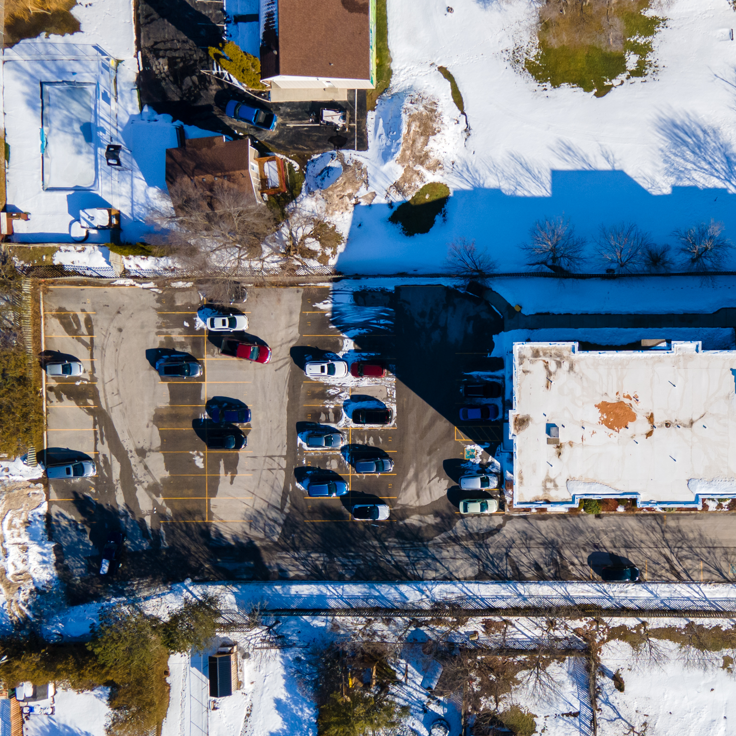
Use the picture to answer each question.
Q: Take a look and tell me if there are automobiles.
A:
Yes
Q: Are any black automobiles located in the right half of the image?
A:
Yes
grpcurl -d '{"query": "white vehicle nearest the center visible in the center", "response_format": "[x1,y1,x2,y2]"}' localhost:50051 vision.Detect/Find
[304,359,348,379]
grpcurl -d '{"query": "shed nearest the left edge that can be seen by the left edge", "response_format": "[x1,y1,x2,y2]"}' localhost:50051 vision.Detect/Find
[0,213,23,237]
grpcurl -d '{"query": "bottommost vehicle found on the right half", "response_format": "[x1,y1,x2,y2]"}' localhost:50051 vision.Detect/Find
[602,564,639,584]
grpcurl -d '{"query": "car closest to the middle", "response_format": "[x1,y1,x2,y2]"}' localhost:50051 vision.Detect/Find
[350,359,387,379]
